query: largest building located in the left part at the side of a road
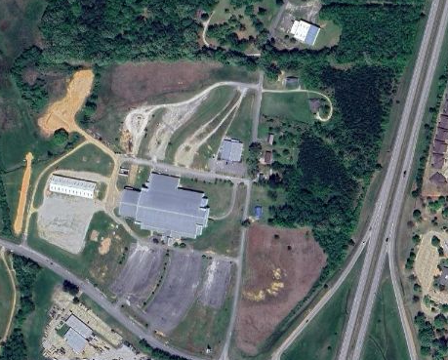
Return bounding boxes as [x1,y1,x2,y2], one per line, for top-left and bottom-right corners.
[119,173,208,238]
